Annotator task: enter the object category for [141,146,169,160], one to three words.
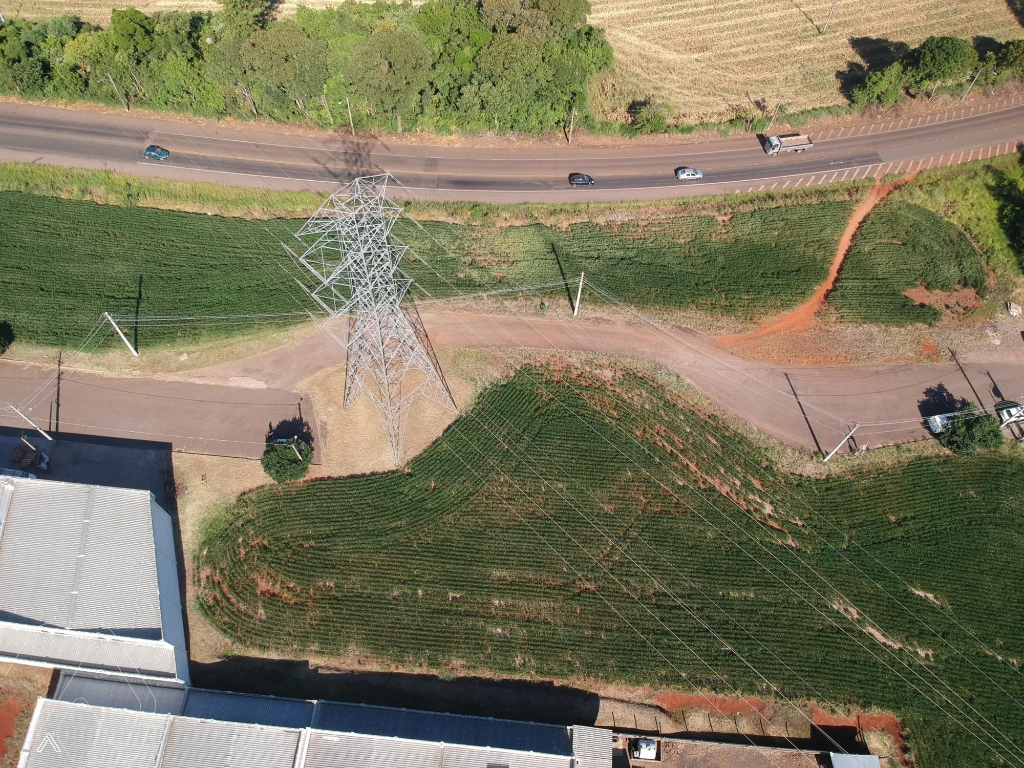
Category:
car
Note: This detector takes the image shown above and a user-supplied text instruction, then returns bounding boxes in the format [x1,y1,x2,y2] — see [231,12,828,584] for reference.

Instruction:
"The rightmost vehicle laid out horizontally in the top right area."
[767,134,817,155]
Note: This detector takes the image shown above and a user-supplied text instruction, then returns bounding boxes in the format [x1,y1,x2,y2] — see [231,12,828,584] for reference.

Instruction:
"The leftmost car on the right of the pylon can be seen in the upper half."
[569,174,596,187]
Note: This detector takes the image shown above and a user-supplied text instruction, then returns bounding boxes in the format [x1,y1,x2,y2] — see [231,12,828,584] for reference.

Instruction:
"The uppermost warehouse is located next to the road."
[0,475,185,652]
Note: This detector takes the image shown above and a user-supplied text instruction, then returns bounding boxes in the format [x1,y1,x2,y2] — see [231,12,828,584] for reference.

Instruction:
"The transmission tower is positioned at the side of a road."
[280,163,462,467]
